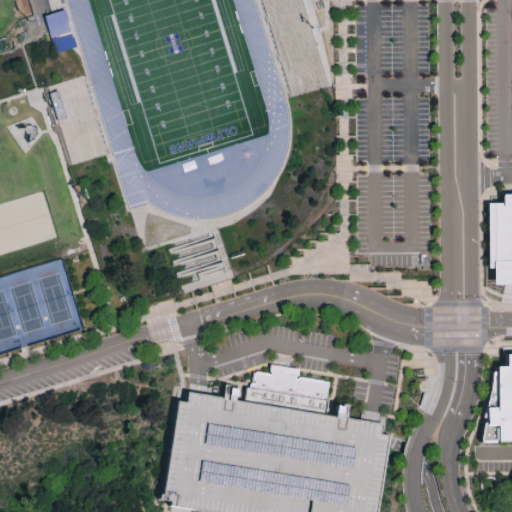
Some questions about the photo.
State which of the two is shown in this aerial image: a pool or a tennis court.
tennis court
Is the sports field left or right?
left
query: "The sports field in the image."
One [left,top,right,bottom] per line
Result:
[89,0,269,170]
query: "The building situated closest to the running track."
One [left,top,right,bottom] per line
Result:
[46,10,72,38]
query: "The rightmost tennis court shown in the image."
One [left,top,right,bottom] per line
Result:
[38,273,74,325]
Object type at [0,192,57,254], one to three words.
sports court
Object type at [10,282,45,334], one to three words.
tennis court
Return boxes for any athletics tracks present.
[68,0,290,218]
